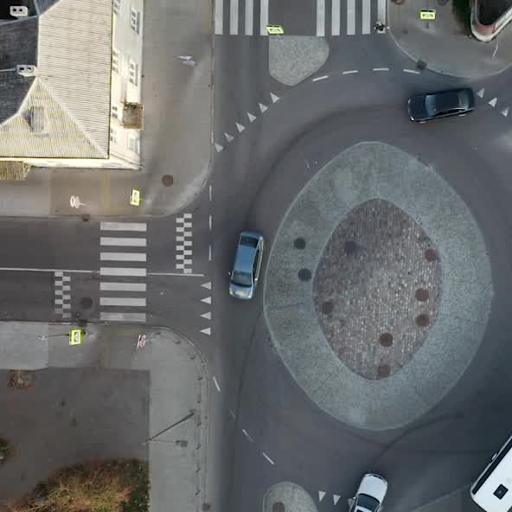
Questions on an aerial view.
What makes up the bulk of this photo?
paved ground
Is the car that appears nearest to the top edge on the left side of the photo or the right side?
right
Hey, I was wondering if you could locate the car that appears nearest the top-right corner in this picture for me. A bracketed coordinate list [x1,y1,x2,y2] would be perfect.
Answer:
[406,87,476,123]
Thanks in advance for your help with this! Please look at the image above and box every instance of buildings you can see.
[0,0,147,177]
[469,0,512,43]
